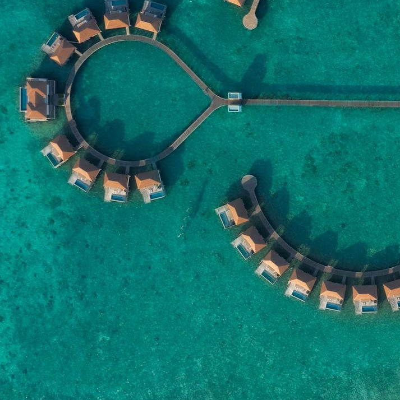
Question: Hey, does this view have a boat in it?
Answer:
No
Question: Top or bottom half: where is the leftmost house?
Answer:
top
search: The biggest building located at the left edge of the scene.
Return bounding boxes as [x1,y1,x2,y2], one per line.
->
[19,79,58,121]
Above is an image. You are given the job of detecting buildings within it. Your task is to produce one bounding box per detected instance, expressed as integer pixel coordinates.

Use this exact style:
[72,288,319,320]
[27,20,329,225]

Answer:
[70,8,103,43]
[42,134,78,169]
[353,284,379,316]
[104,0,133,30]
[69,158,104,194]
[135,170,168,205]
[104,173,133,204]
[42,31,79,66]
[19,79,58,121]
[225,93,240,112]
[215,198,250,229]
[135,0,169,33]
[231,227,267,261]
[285,267,318,302]
[384,279,400,312]
[321,281,347,311]
[255,250,290,286]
